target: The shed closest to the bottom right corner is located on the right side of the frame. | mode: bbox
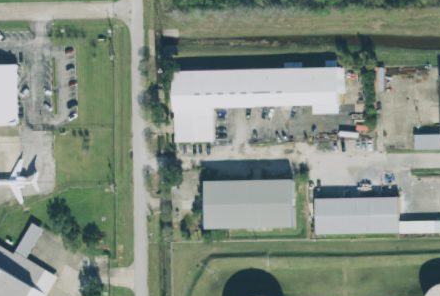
[399,220,440,234]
